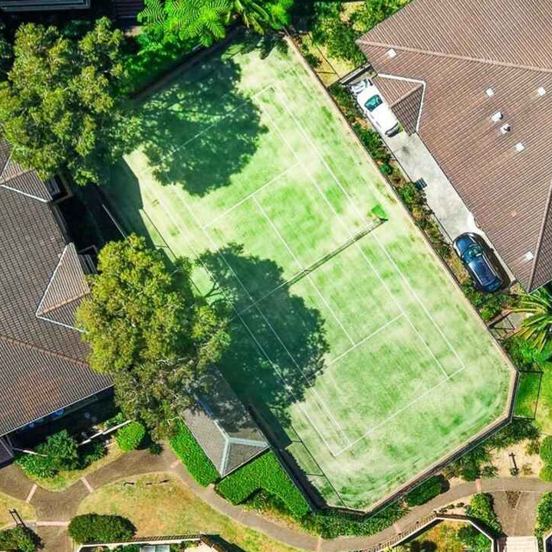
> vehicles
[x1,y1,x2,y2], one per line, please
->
[350,77,401,139]
[454,230,504,297]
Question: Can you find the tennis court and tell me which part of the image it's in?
center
